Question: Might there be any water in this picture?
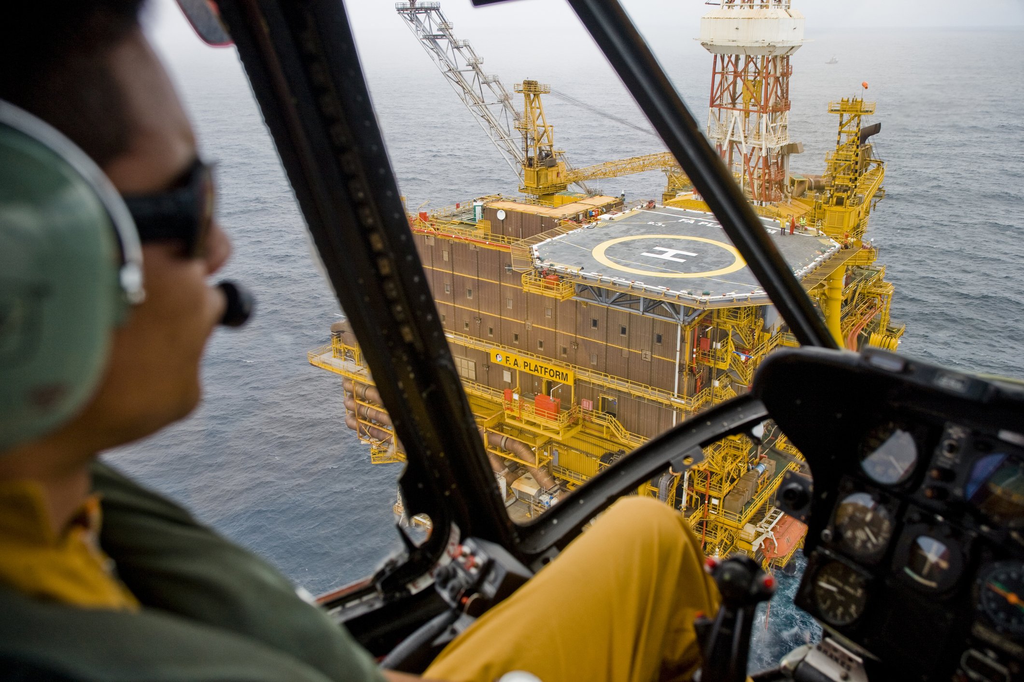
Yes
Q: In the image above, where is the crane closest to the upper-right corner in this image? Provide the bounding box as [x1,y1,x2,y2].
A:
[812,97,887,334]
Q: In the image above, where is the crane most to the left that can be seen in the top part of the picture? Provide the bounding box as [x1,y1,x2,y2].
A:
[505,73,678,203]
